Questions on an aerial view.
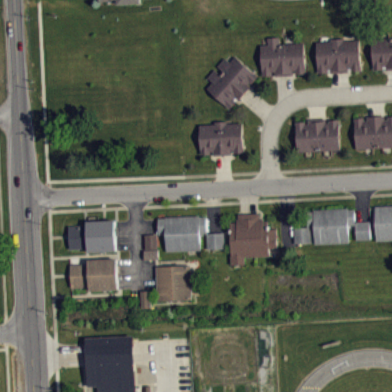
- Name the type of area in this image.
residential area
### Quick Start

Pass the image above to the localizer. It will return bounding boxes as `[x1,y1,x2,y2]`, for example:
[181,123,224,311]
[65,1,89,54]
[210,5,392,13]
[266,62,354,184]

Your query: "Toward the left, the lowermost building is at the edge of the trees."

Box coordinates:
[84,338,138,392]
